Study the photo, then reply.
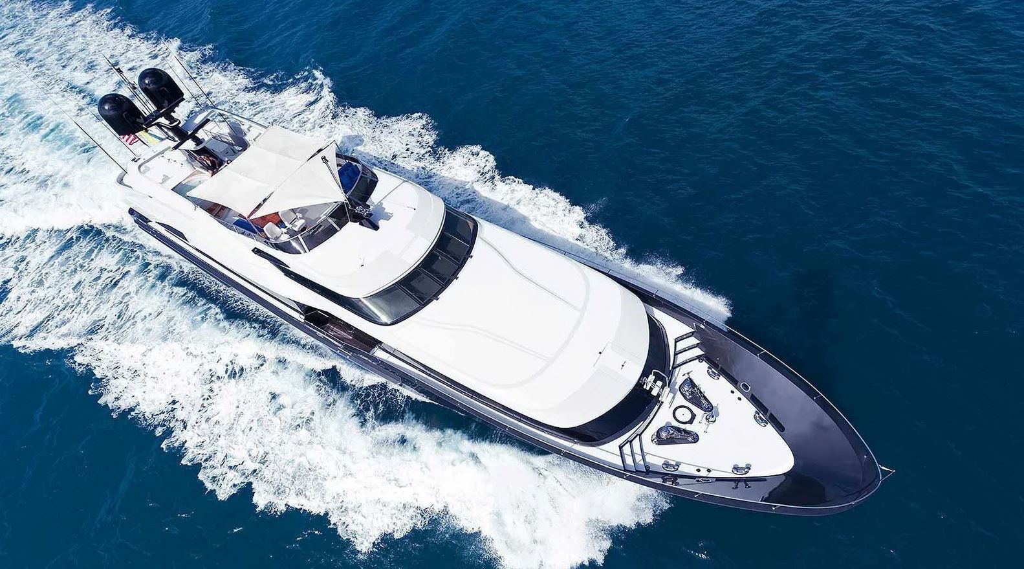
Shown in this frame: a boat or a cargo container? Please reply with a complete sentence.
Looking from above, you can make out a boat.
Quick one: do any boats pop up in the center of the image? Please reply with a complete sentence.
Yes, I can see a boat in the center of the image.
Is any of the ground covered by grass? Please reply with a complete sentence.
No, grass can't be seen anywhere here.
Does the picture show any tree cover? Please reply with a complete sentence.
No, the scene doesn't show any tree cover.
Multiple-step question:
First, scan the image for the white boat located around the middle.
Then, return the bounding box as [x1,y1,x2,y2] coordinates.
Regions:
[47,21,895,515]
